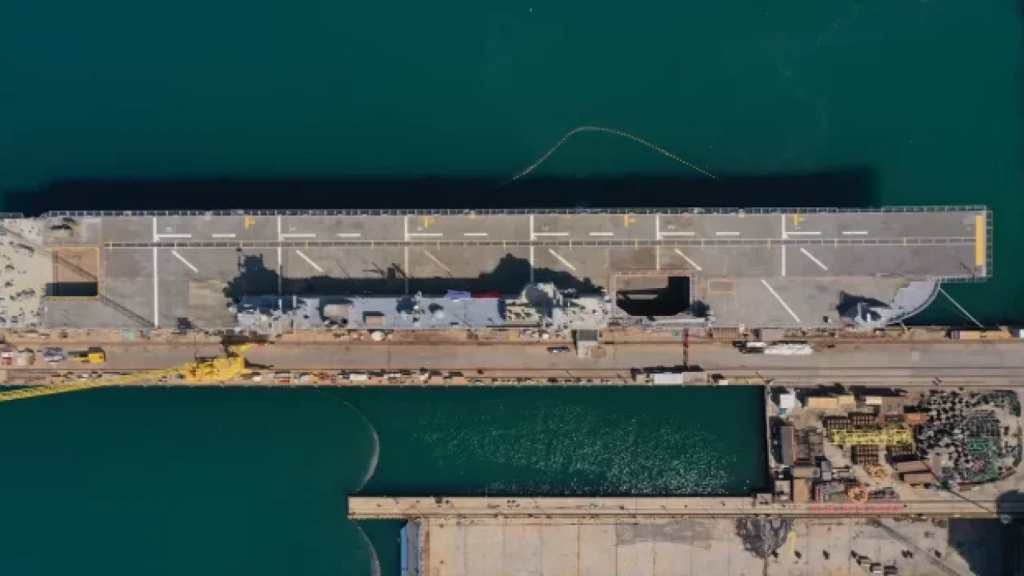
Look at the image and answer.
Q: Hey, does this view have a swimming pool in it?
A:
No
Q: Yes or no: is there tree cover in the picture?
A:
No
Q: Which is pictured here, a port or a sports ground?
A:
port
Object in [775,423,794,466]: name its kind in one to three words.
shed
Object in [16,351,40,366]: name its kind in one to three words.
vehicle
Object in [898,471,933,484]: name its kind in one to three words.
shed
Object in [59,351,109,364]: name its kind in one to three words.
vehicle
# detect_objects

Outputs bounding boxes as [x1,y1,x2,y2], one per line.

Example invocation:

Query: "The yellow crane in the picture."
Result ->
[0,341,262,405]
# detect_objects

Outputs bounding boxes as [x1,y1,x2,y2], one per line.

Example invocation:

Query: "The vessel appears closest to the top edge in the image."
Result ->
[0,205,991,334]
